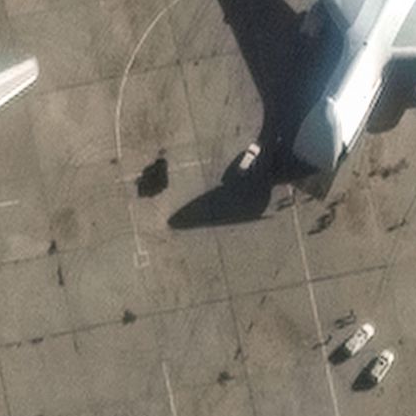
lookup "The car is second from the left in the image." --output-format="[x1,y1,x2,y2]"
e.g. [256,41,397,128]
[341,321,375,355]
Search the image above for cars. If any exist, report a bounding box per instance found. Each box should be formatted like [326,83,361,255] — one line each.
[237,142,261,169]
[341,321,375,355]
[367,349,396,383]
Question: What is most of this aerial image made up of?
paved ground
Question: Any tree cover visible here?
No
